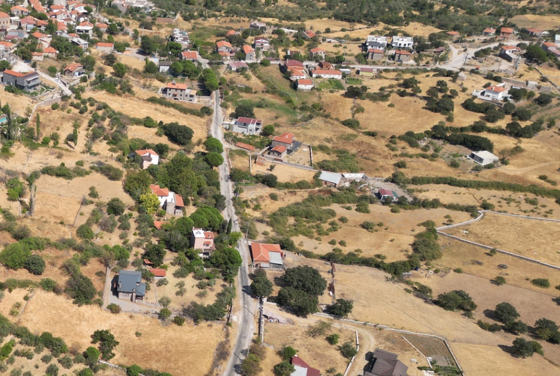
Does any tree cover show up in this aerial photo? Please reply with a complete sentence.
Yes, there's tree cover in this view.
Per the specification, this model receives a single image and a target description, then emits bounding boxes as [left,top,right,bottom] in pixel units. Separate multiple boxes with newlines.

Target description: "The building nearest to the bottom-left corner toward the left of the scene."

[116,269,156,301]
